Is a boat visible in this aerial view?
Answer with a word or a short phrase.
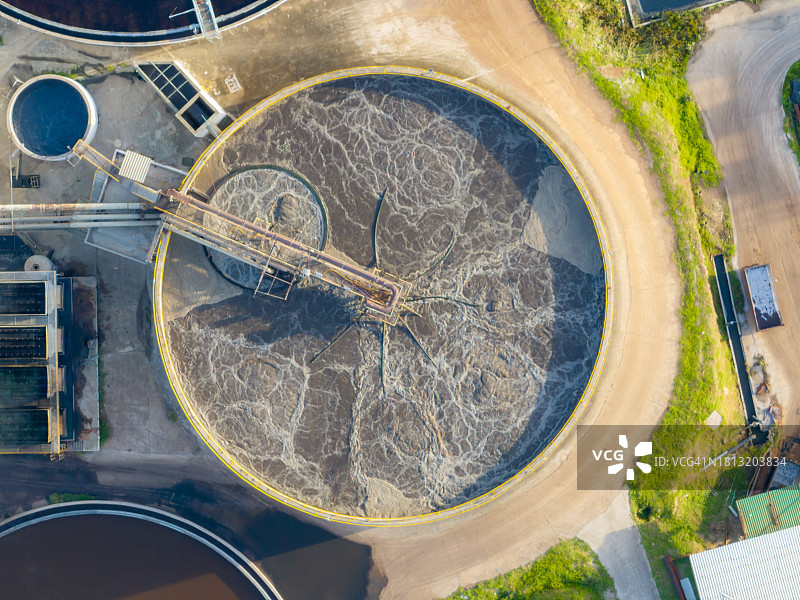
No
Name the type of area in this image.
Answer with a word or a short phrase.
industrial area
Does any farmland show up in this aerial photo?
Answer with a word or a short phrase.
No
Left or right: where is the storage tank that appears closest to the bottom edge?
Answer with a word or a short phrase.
left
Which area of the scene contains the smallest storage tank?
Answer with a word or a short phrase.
top left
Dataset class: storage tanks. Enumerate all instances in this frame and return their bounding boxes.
[0,0,293,51]
[7,73,101,163]
[0,498,288,600]
[152,67,610,525]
